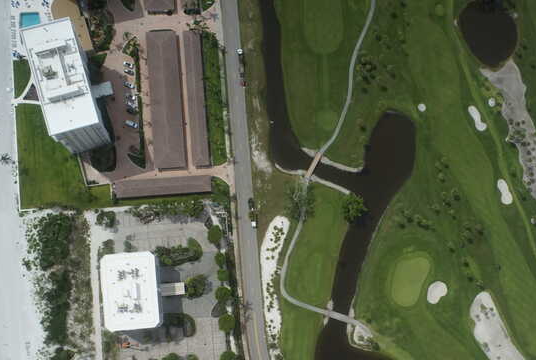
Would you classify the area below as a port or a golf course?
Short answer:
golf course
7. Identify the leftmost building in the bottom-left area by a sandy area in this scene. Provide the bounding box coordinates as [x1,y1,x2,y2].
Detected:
[100,251,162,332]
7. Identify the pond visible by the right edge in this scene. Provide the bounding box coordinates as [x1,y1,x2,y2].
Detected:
[459,0,518,69]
